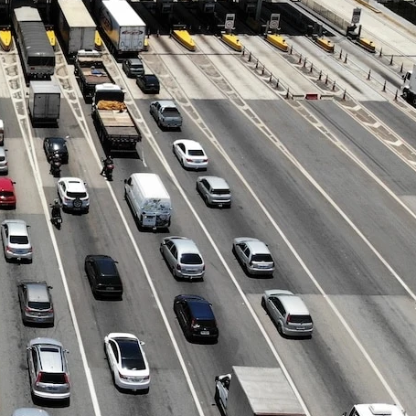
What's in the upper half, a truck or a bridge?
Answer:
truck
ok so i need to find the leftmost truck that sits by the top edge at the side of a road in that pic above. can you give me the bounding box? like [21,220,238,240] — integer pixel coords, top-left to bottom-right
[8,0,55,81]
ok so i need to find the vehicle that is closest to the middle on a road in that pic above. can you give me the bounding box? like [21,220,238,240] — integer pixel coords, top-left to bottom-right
[192,178,232,208]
